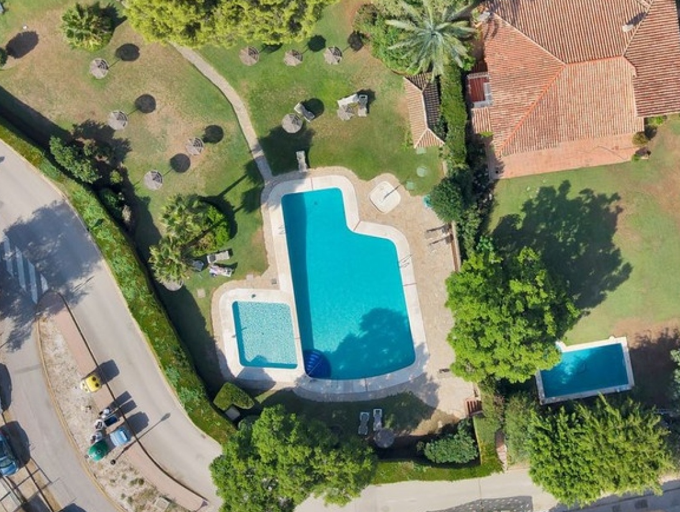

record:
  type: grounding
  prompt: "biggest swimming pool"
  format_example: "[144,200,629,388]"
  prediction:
[230,175,426,394]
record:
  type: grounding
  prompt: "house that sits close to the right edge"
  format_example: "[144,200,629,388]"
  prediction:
[465,0,680,159]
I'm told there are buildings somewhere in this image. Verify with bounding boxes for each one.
[465,0,680,159]
[402,72,446,150]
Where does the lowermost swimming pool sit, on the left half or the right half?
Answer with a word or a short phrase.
right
